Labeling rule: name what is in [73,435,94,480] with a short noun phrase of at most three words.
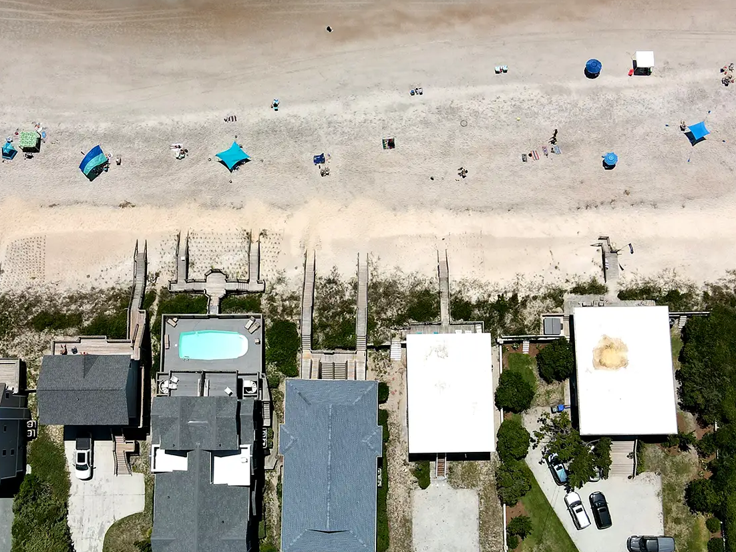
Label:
truck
